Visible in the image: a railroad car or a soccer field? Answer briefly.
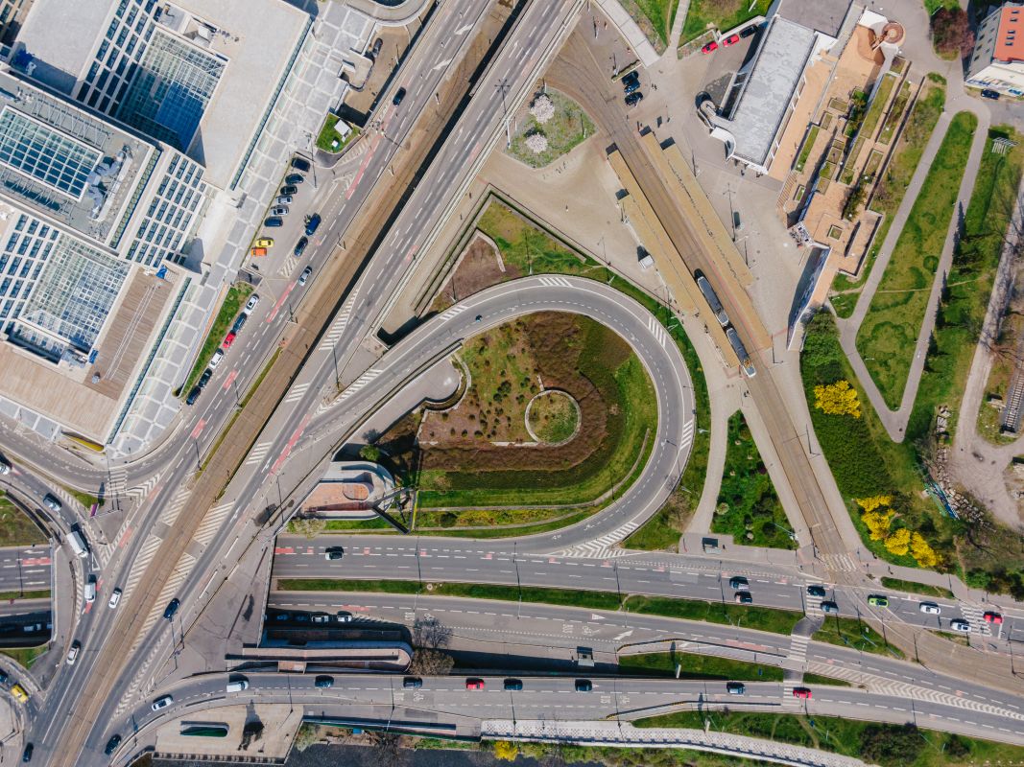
railroad car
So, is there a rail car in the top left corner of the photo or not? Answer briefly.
No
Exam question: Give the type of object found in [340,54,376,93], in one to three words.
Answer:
shed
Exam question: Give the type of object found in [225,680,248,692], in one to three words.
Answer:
vehicle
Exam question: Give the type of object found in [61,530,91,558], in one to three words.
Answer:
truck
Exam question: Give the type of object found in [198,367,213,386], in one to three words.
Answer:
car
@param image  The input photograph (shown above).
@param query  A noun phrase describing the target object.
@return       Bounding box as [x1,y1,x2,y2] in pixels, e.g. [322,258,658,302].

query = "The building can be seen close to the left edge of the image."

[0,0,324,447]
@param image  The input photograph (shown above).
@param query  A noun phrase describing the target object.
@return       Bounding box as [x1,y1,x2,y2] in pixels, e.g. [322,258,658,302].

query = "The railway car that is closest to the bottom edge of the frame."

[722,327,757,378]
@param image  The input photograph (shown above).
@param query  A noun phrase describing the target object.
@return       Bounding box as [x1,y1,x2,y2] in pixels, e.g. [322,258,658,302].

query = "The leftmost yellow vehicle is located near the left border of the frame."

[10,684,29,703]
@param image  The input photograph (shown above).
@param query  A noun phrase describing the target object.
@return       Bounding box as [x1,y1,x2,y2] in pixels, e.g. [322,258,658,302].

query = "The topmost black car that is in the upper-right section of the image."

[738,24,758,38]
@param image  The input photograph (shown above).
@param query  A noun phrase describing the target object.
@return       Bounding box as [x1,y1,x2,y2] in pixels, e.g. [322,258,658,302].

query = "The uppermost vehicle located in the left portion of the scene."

[371,37,383,57]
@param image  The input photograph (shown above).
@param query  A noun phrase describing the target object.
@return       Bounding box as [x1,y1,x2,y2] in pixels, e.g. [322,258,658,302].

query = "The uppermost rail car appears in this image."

[693,275,729,327]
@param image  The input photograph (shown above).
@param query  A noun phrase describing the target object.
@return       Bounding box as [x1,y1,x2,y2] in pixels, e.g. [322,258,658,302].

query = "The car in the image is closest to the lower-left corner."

[23,743,35,763]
